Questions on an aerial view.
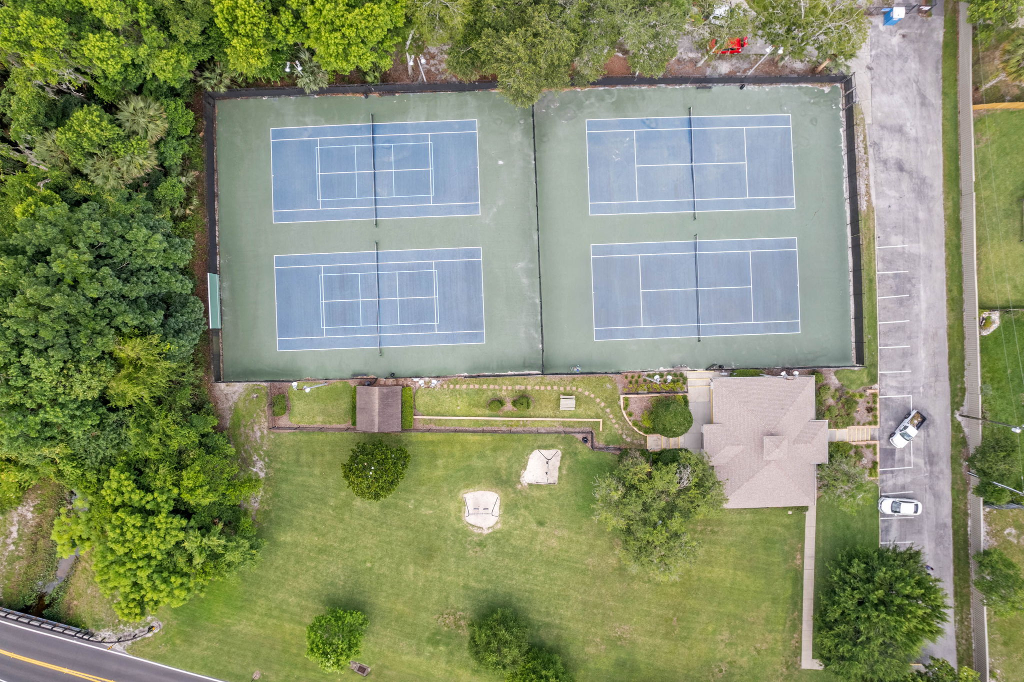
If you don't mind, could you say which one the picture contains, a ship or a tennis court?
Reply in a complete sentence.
Looking from above, you can make out a tennis court.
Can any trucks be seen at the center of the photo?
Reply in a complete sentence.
No, no truck appears at the center of the photo.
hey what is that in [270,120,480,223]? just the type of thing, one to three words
tennis court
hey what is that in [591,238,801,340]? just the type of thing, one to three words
tennis court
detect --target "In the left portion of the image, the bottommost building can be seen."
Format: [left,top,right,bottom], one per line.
[356,386,402,433]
